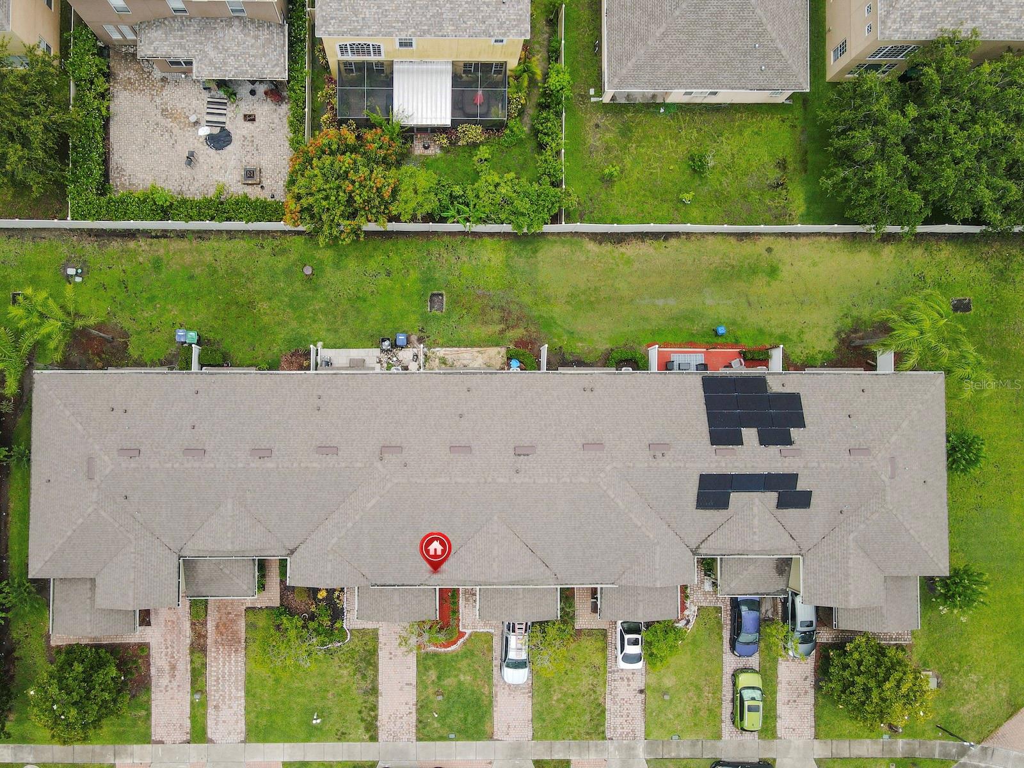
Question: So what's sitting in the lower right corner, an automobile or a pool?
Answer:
automobile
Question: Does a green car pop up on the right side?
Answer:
Yes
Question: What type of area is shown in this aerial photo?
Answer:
residential area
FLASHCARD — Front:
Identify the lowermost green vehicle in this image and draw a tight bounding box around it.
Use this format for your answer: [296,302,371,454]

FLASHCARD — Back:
[730,667,766,731]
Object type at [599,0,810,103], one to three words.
house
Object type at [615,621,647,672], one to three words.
car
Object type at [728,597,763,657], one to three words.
car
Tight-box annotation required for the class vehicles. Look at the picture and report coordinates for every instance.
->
[728,597,763,657]
[730,667,766,731]
[615,621,647,672]
[781,591,820,659]
[500,622,533,686]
